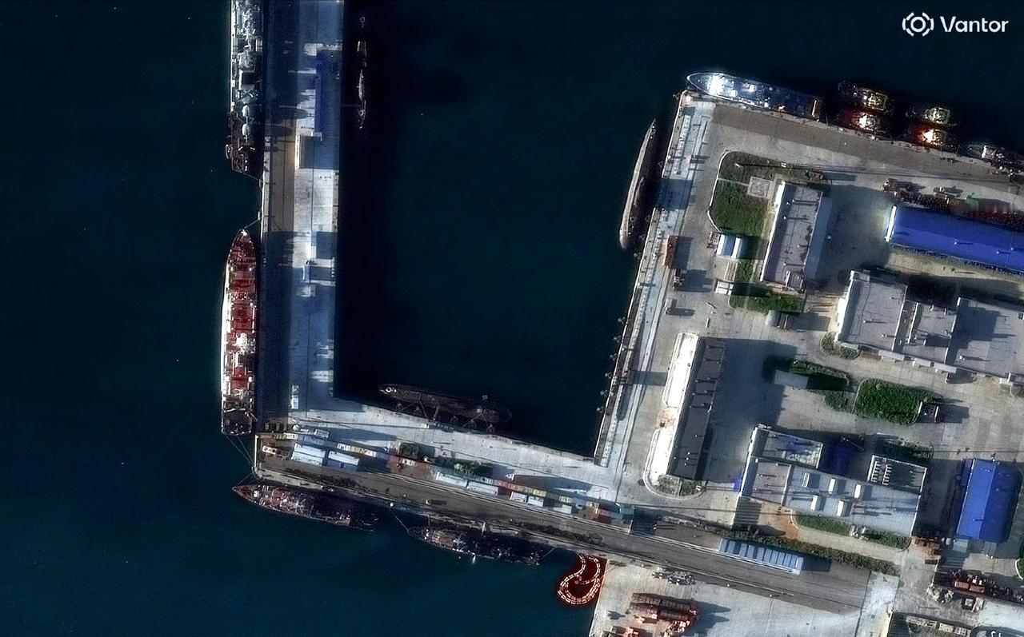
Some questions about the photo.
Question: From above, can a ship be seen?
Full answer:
Yes, I can see a ship in this picture.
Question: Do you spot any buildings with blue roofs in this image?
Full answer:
Yes, a building with a blue roof can be made out from above.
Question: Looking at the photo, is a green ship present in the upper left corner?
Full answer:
No, no green ship appears in the upper left corner.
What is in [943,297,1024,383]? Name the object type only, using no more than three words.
building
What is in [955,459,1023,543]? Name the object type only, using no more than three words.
building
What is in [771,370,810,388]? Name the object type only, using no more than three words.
shed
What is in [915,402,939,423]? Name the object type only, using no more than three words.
shed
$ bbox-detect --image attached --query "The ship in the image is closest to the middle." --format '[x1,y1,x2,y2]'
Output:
[377,387,509,421]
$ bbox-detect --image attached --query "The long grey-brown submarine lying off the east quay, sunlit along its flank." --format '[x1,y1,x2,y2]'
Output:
[621,121,657,248]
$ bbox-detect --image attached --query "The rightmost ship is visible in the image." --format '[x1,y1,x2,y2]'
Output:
[966,143,1024,169]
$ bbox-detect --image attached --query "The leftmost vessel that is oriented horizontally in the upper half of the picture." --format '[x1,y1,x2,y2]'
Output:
[687,72,824,118]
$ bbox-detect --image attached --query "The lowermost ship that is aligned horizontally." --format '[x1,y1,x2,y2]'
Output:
[407,524,551,569]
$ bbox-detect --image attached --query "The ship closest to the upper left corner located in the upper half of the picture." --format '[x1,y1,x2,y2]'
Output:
[231,0,264,173]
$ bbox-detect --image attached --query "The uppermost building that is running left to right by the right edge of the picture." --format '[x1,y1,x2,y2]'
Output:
[887,207,1024,273]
